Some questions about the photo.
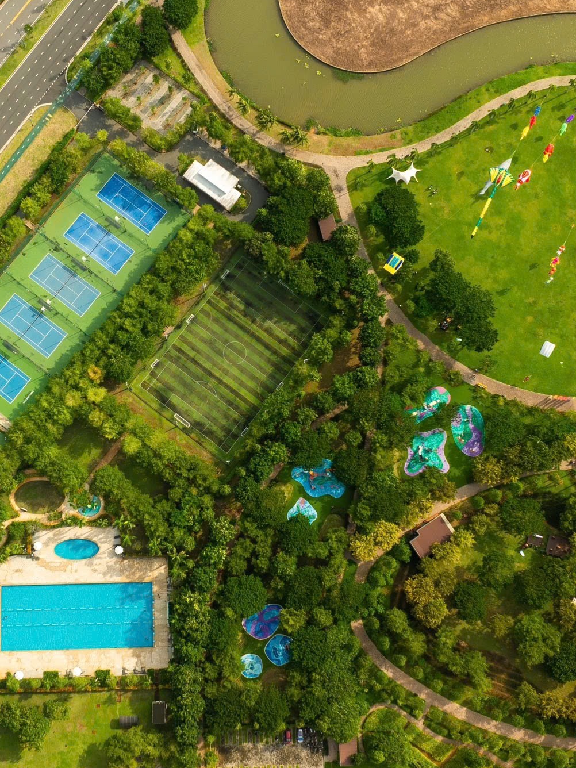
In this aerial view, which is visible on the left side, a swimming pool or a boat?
swimming pool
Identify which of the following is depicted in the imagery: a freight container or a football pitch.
football pitch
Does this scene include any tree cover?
Yes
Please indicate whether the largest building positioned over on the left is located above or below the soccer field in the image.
above it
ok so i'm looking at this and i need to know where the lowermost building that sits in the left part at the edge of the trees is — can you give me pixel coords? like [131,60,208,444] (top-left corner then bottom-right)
[152,699,167,724]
